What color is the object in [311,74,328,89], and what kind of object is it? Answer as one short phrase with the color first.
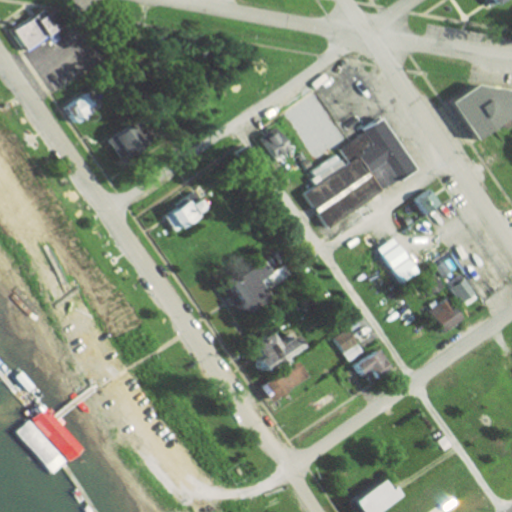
white vehicle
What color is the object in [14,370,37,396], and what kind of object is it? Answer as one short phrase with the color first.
white boat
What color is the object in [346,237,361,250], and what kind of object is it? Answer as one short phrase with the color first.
white vehicle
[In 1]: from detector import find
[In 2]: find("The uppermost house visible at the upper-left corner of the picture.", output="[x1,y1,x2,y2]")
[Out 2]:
[16,16,60,52]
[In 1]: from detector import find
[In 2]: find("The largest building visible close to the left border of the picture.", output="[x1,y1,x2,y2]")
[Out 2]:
[16,408,86,474]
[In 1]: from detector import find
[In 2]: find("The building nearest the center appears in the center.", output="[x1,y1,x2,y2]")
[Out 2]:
[236,268,291,306]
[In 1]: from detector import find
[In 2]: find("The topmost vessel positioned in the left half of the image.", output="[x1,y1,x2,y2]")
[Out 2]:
[10,294,36,319]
